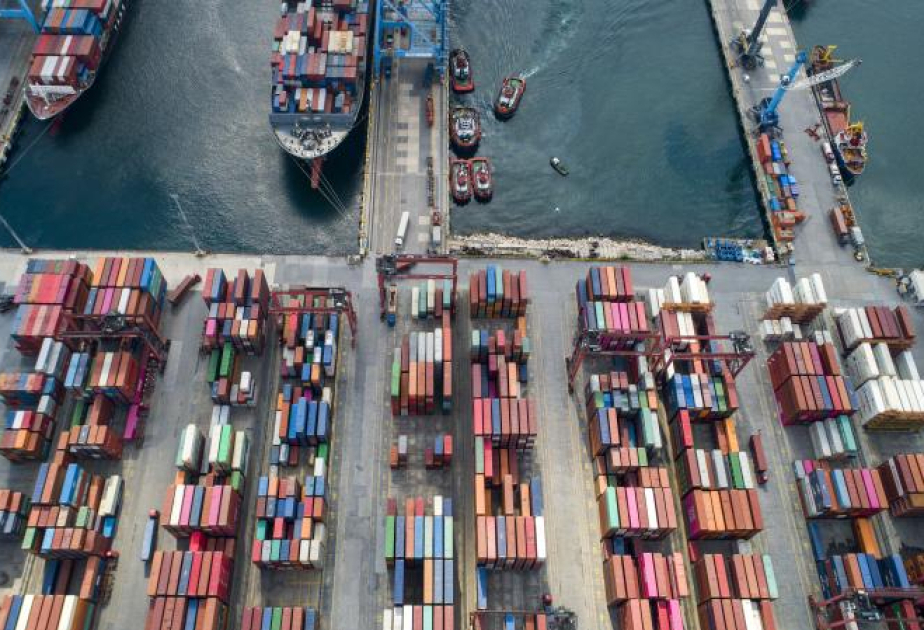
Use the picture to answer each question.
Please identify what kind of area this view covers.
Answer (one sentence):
This looks like a port.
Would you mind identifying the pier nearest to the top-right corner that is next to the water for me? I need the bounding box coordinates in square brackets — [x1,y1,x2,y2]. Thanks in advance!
[707,0,869,261]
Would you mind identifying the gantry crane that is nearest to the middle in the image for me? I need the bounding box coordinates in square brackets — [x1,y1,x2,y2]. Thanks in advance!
[375,253,458,311]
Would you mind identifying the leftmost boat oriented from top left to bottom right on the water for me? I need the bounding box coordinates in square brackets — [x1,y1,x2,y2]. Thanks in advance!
[553,156,570,174]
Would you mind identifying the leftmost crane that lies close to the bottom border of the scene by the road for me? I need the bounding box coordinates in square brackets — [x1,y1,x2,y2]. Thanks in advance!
[469,602,580,630]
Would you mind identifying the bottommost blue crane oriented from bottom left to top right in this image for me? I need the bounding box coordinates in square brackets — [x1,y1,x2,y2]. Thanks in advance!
[743,53,863,134]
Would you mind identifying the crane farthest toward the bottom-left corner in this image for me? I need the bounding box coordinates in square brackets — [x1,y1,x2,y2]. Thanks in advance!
[49,310,172,367]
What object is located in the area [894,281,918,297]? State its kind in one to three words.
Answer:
work vehicle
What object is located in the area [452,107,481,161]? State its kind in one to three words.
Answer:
boat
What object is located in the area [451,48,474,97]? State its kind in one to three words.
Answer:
boat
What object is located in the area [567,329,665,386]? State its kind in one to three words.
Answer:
container crane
